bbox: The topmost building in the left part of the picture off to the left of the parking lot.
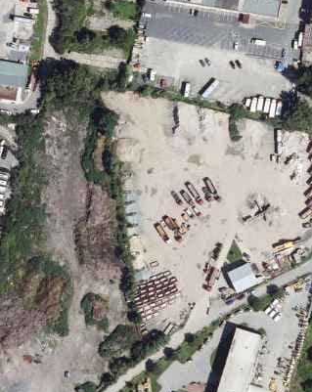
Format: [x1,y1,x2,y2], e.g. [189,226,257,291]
[14,18,33,38]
